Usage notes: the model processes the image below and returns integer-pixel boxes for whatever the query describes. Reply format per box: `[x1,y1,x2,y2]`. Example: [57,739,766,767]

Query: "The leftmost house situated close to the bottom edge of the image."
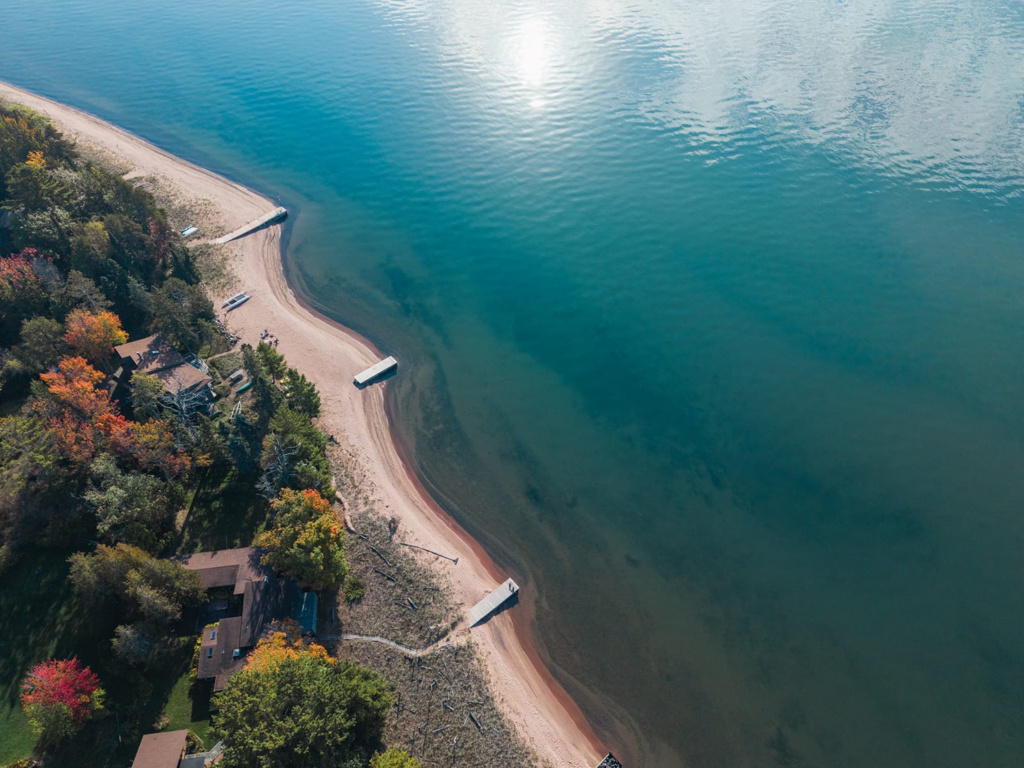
[131,729,206,768]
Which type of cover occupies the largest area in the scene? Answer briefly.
water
